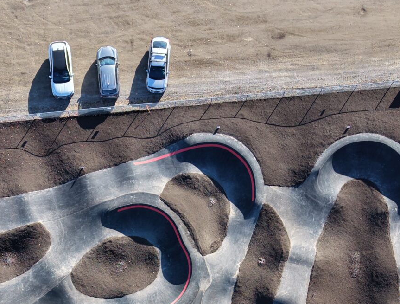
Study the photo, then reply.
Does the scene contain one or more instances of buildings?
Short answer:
No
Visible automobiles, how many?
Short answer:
three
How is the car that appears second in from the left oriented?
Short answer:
vertically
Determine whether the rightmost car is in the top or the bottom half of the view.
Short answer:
top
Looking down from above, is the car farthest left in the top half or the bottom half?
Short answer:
top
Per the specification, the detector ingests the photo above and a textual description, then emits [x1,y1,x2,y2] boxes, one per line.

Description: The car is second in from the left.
[94,43,122,97]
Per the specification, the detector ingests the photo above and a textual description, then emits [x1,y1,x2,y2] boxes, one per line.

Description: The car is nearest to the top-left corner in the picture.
[48,39,75,99]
